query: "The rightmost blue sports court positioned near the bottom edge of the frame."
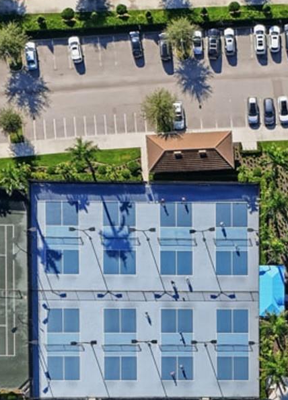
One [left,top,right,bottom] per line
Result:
[214,308,251,381]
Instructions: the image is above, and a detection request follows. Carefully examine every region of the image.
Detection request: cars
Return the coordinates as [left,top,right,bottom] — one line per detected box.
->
[263,97,276,127]
[283,22,288,55]
[128,27,144,63]
[24,42,39,71]
[67,36,83,66]
[247,96,261,126]
[206,30,220,59]
[158,33,172,62]
[252,25,266,55]
[223,27,236,57]
[172,101,186,131]
[268,25,282,55]
[277,94,288,125]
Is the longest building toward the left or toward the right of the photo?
right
